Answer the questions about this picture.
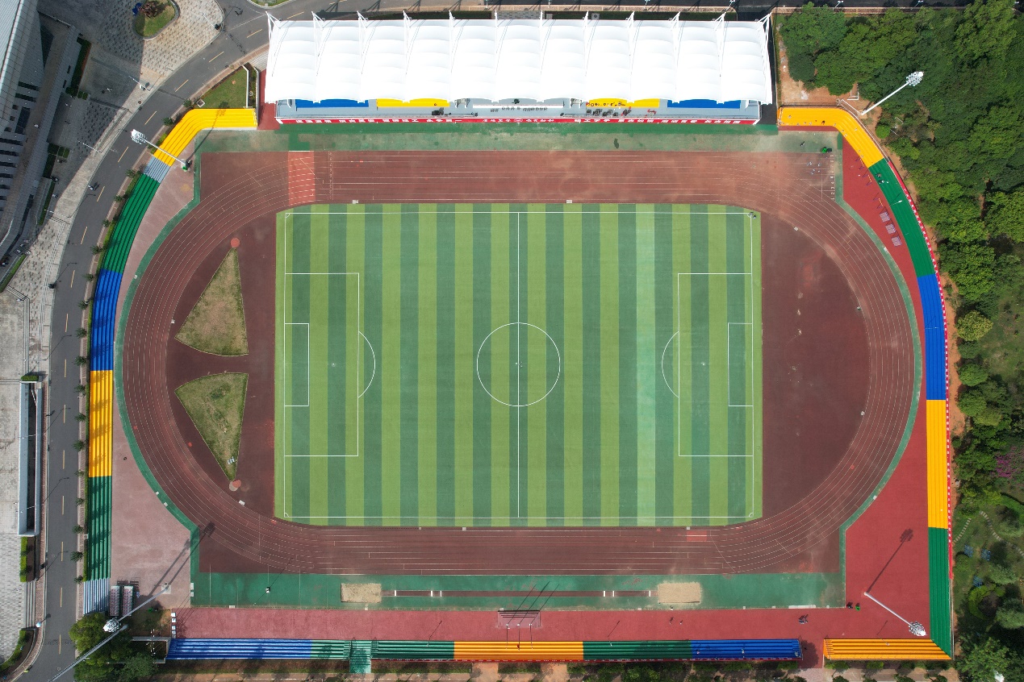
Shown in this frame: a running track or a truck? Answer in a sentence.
The image shows a running track.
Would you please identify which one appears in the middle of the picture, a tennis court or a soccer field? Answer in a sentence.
There is a soccer field in the middle of the picture.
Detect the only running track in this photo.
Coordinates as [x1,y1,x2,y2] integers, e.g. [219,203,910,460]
[114,122,922,607]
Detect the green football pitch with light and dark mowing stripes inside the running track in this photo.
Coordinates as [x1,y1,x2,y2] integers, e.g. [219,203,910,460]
[275,204,762,528]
